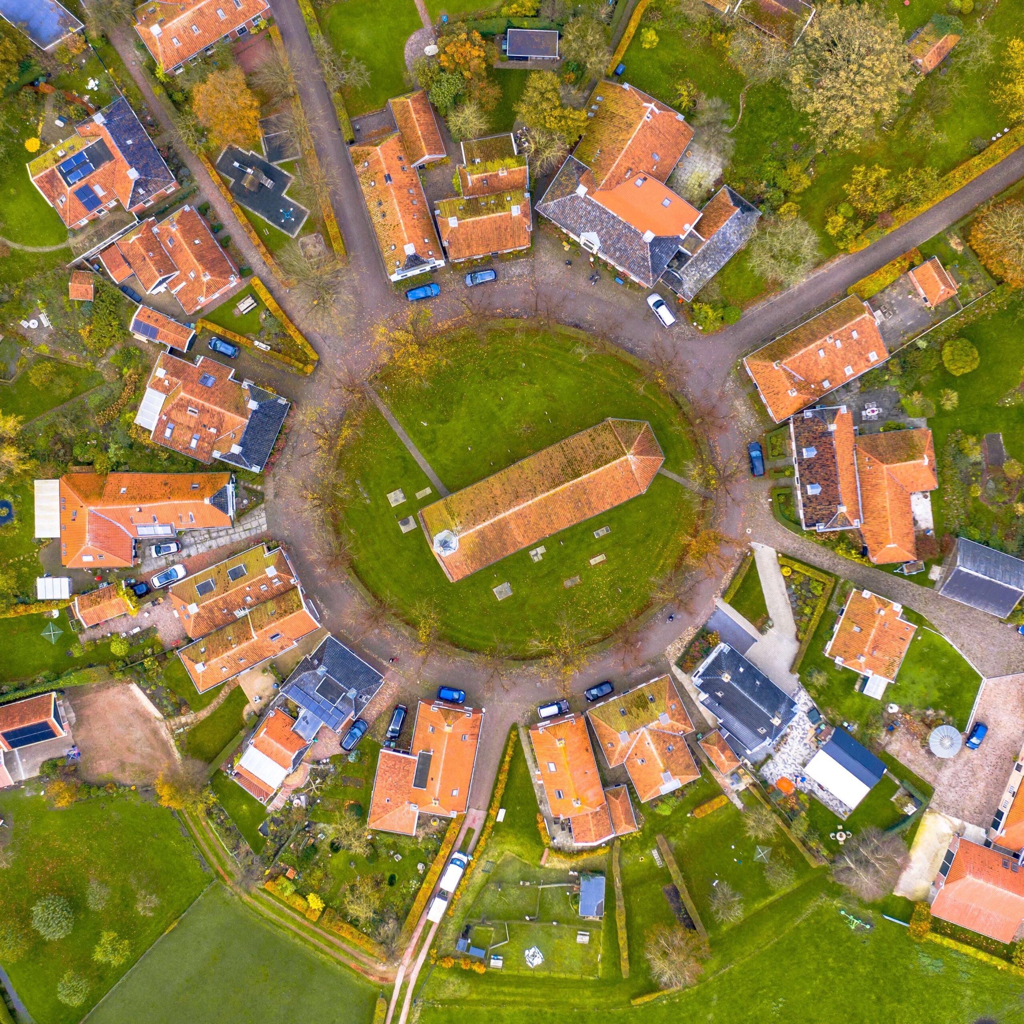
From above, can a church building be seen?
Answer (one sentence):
Yes, the photo shows a church building.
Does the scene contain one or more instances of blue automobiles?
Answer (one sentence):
Yes, a blue automobile is visible in the scene.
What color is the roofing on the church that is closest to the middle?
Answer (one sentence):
From above, the roof of the church that is closest to the middle looks orange.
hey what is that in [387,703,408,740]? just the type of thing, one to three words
car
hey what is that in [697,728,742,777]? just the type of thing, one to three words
shed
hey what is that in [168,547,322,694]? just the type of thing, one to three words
house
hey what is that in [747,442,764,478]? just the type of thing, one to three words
car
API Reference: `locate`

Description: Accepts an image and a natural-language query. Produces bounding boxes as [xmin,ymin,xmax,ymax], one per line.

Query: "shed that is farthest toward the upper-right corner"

[901,22,962,76]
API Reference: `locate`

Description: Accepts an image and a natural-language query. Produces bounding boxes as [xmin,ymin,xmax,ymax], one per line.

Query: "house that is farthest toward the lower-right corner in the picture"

[925,832,1024,945]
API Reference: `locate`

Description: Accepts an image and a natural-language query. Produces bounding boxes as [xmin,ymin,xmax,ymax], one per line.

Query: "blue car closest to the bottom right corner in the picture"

[965,720,987,751]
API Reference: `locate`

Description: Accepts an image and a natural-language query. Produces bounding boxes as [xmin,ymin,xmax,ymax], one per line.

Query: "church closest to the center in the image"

[415,418,665,584]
